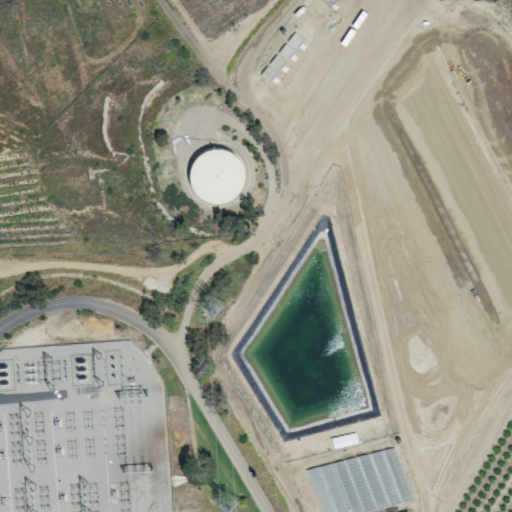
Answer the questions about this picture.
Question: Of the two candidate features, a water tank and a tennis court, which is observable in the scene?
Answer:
water tank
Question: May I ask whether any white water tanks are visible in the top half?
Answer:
Yes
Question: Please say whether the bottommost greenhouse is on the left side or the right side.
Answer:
right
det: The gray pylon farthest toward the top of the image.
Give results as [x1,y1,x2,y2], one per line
[202,306,224,320]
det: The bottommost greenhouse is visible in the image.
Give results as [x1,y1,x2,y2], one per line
[306,448,414,512]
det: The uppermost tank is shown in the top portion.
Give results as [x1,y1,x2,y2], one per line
[190,148,246,206]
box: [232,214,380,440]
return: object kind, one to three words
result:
pond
